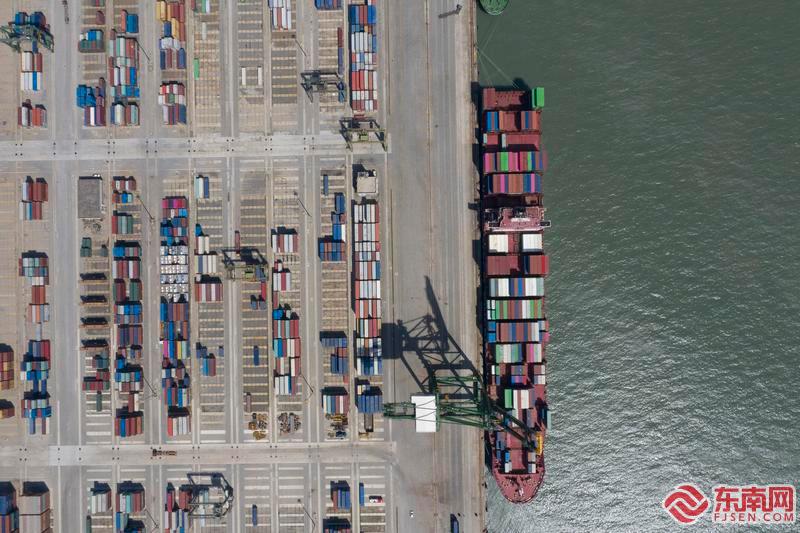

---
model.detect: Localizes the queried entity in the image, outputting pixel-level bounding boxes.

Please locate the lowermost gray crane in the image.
[188,489,234,518]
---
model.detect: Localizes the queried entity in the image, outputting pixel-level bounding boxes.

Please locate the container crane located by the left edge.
[0,26,54,55]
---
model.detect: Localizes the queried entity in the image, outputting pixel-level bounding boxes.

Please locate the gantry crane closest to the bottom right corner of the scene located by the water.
[384,366,536,456]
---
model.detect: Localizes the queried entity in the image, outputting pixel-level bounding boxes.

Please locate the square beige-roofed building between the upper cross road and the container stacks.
[357,172,377,199]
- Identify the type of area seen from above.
port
